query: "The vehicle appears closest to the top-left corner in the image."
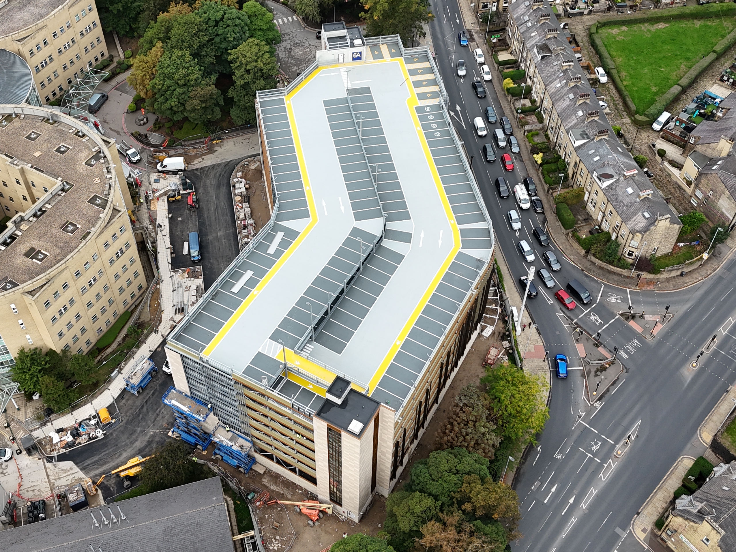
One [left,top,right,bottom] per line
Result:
[86,94,108,112]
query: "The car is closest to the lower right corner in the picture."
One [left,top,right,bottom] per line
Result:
[554,354,569,380]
